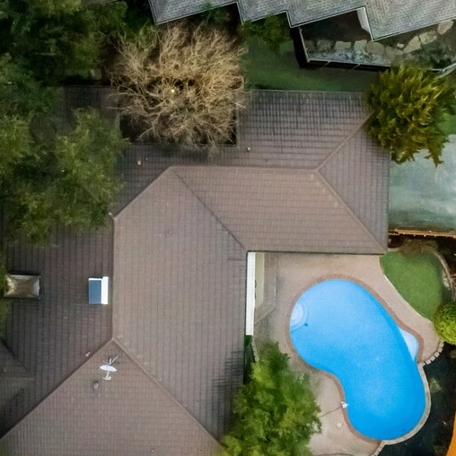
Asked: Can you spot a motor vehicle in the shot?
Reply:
No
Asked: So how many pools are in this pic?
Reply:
1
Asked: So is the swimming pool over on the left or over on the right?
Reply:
right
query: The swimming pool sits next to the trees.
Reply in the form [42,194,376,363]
[285,275,431,445]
